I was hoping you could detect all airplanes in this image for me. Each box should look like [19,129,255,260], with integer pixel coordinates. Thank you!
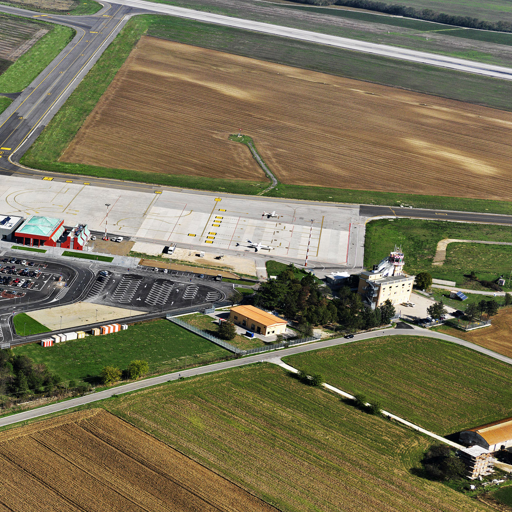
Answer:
[262,210,280,217]
[248,235,272,251]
